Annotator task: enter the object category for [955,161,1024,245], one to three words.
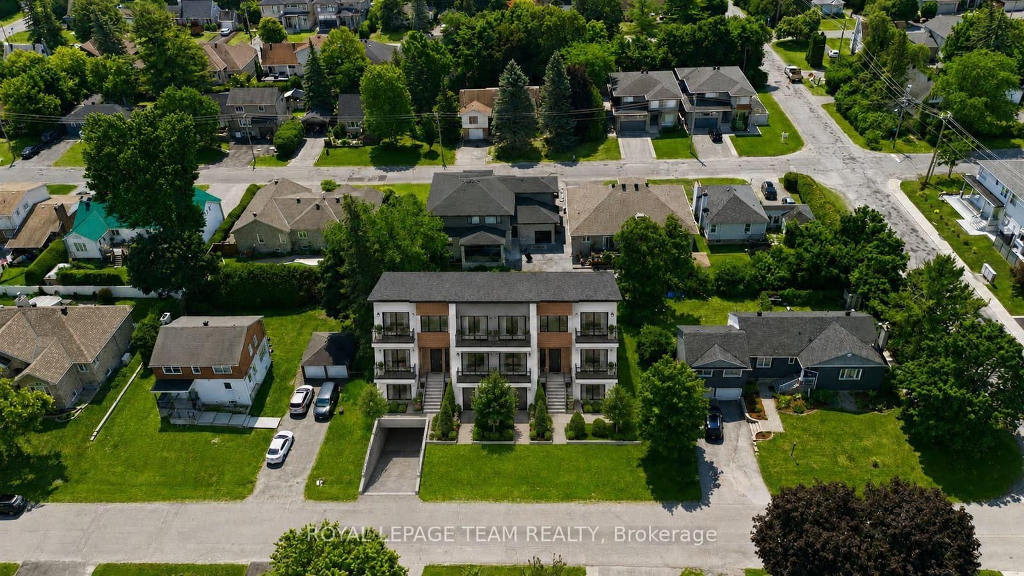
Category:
house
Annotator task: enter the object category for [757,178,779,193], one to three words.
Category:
car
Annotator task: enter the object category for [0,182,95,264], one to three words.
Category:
house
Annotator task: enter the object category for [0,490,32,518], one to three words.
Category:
car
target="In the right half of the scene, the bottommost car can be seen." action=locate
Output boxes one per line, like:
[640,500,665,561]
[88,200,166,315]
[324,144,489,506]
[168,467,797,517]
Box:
[703,408,729,439]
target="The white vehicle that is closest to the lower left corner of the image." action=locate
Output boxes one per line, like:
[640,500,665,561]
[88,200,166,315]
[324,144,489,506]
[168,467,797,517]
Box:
[262,429,294,466]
